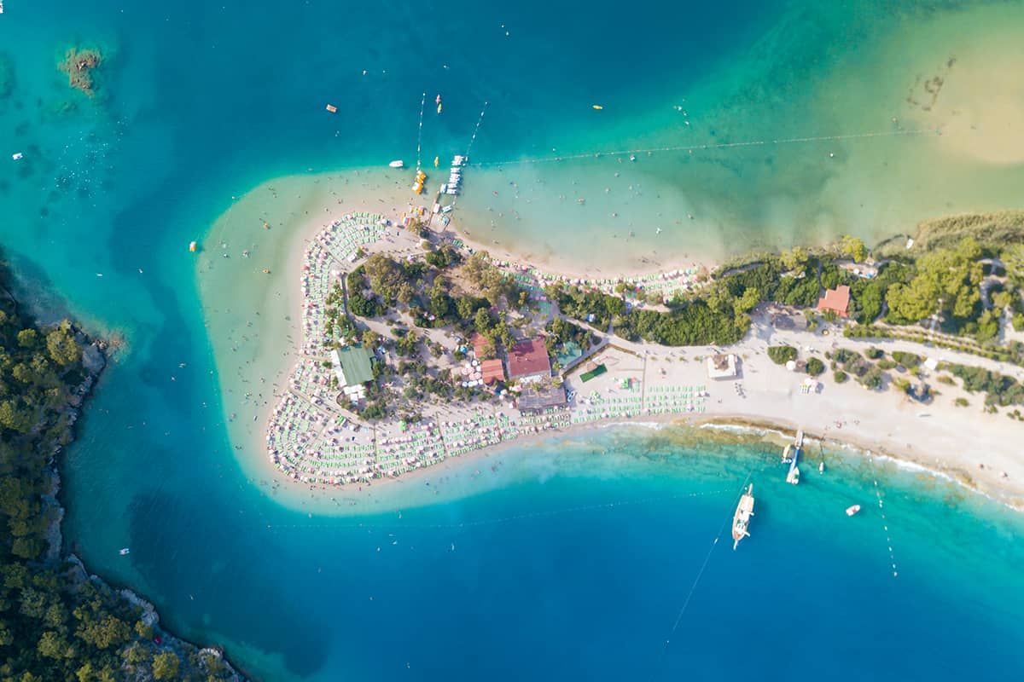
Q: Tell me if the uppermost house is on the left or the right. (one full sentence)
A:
The uppermost house is on the right side of the image.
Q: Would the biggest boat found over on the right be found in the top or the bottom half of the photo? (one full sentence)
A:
It is in the bottom half that the biggest boat found over on the right appears.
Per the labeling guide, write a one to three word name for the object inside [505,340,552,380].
building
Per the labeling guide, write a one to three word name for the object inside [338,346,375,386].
building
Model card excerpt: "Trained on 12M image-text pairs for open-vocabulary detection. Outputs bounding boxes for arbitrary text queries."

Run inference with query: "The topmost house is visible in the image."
[815,284,848,316]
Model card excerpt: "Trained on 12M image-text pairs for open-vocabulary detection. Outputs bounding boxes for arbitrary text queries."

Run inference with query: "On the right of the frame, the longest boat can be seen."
[734,486,757,554]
